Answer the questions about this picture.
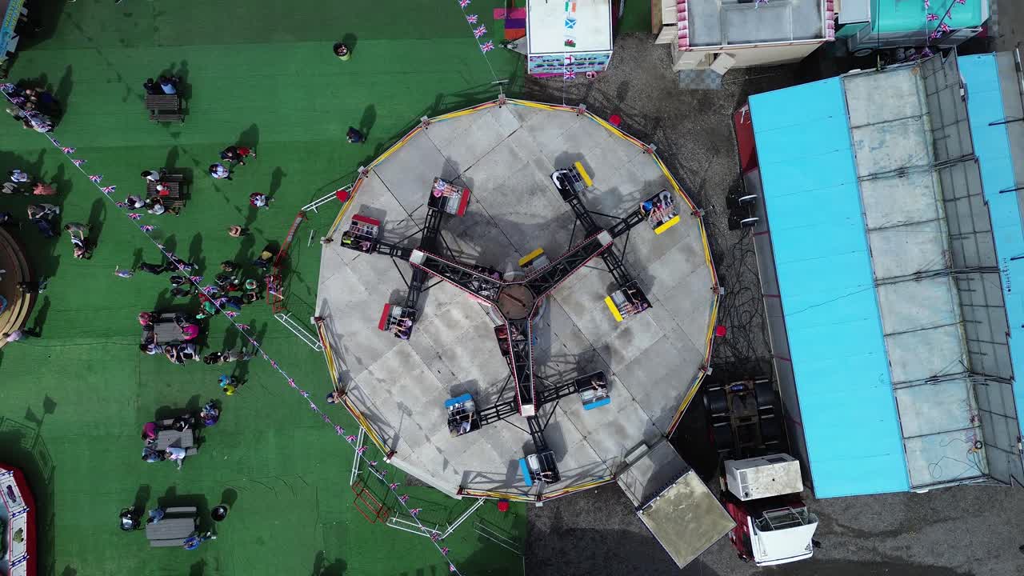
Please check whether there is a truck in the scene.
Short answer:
Yes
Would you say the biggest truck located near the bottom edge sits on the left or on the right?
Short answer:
right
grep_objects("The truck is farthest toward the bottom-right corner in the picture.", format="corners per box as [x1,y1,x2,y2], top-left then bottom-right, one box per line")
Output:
[705,370,820,567]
